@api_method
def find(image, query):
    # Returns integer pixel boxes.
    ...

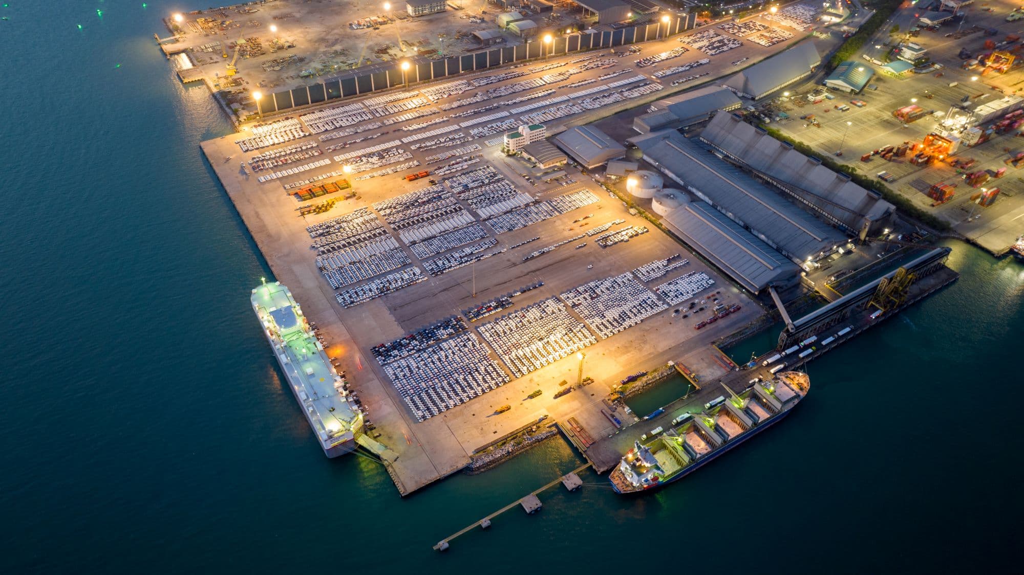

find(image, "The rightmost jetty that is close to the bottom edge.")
[434,459,593,549]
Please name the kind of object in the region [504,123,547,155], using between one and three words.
building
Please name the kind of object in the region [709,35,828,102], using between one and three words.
building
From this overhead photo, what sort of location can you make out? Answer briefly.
port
